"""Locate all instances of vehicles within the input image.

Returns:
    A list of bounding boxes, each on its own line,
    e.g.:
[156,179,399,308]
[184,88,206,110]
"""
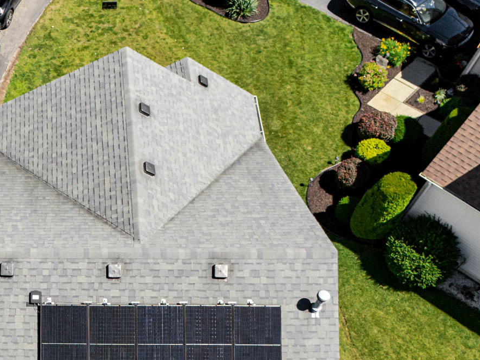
[449,0,480,18]
[347,0,478,62]
[0,0,19,28]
